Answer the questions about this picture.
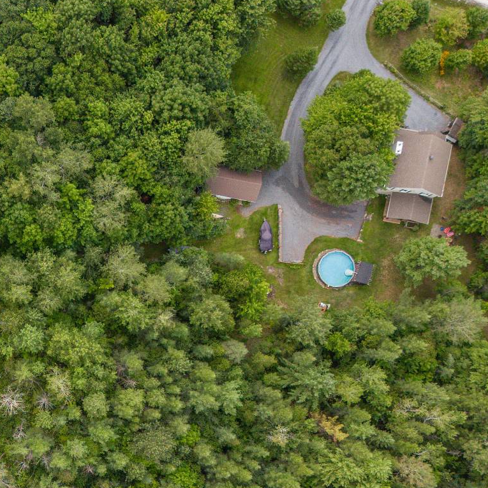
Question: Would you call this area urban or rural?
rural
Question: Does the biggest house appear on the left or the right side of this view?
right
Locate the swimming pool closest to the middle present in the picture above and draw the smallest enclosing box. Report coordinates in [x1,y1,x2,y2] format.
[316,250,355,287]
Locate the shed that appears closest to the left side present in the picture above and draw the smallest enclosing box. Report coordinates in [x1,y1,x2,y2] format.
[206,165,263,203]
